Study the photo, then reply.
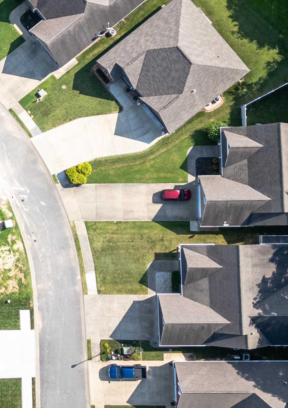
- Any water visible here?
No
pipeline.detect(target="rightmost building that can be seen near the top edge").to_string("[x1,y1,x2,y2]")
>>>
[96,0,250,135]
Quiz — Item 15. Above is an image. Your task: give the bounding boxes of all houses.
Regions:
[171,358,288,408]
[154,245,288,353]
[96,0,250,135]
[20,0,146,68]
[195,124,288,228]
